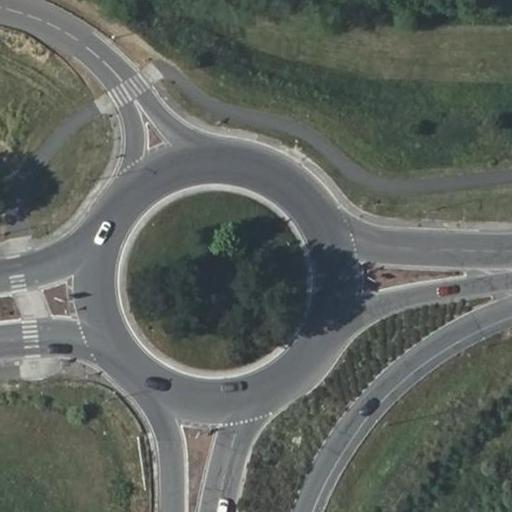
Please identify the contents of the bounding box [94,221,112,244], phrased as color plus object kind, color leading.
white car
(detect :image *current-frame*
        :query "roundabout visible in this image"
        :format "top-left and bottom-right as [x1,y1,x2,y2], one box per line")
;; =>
[73,139,358,424]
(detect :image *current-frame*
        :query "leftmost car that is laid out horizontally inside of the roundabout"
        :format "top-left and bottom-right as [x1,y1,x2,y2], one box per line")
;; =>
[145,378,170,390]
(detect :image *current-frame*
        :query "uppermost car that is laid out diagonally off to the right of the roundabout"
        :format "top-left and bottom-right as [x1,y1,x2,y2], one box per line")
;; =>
[359,397,380,416]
